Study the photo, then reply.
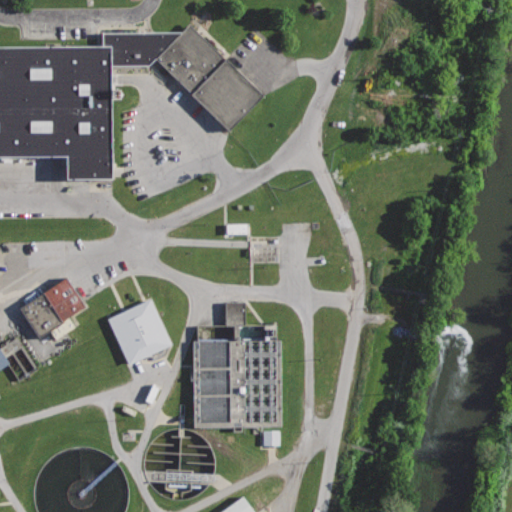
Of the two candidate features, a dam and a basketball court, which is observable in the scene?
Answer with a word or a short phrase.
dam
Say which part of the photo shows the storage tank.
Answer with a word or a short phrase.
bottom left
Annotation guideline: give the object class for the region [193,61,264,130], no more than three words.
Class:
building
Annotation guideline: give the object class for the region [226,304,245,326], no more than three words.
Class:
building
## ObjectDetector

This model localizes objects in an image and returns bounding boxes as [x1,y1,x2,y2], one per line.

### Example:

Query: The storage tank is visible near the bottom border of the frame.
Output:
[34,447,130,512]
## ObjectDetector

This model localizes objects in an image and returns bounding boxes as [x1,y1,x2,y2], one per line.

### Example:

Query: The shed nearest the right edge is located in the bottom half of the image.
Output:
[263,430,282,448]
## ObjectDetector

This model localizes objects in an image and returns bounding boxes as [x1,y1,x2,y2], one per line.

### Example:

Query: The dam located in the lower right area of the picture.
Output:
[424,322,475,446]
